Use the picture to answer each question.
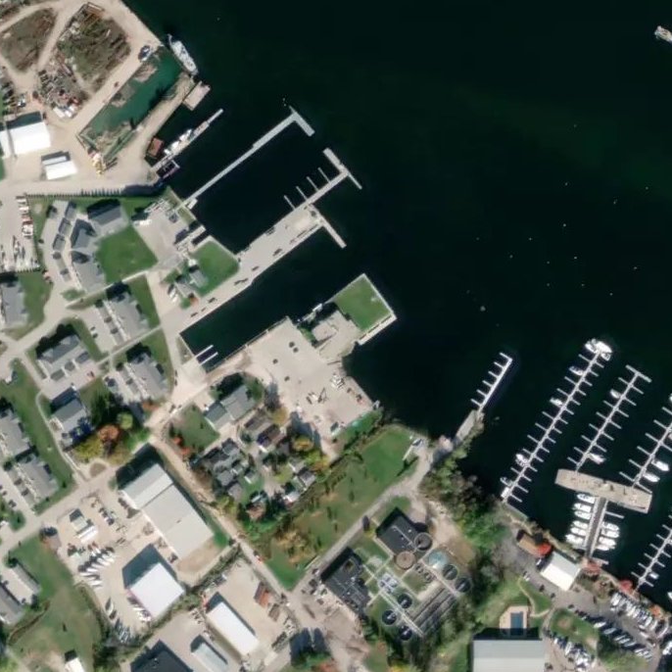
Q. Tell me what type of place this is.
port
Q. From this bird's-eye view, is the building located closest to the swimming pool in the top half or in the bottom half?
bottom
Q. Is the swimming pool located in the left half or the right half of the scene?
right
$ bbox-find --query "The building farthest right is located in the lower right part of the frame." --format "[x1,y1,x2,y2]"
[540,551,581,592]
